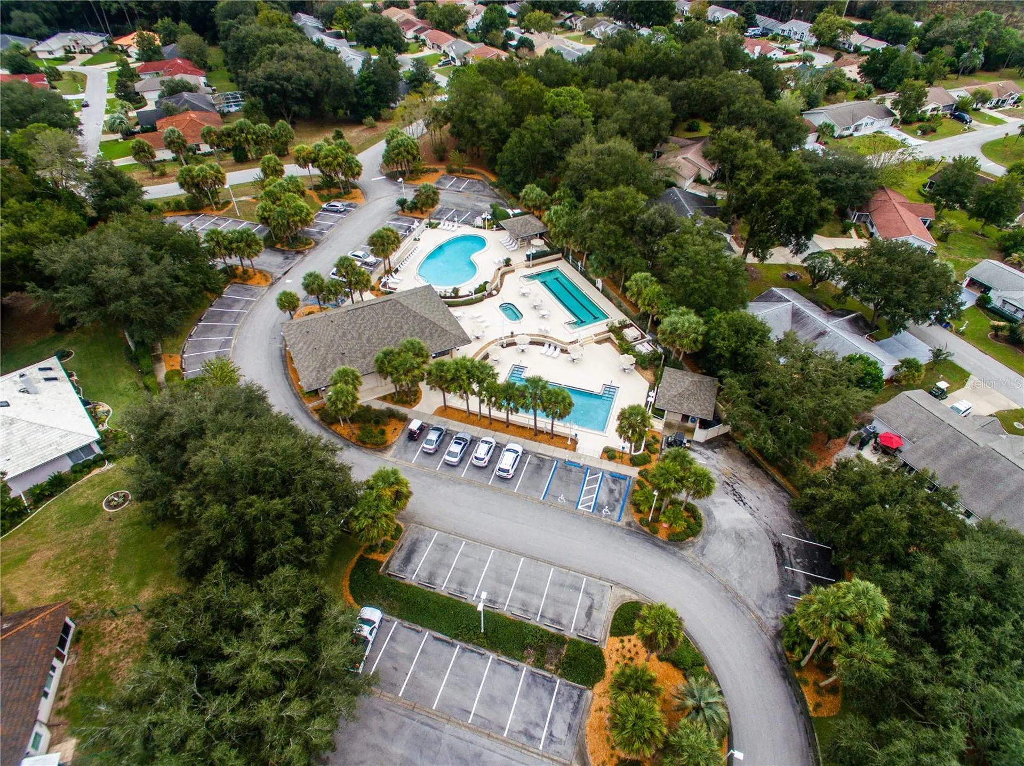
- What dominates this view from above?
trees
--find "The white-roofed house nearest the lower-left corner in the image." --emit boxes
[0,356,109,501]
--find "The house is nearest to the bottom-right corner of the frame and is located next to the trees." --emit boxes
[871,381,1024,505]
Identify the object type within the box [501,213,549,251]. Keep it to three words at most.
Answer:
building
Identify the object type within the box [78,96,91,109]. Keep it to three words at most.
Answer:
vehicle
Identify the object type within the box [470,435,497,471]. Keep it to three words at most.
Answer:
car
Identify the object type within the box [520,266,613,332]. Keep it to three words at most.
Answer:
swimming pool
